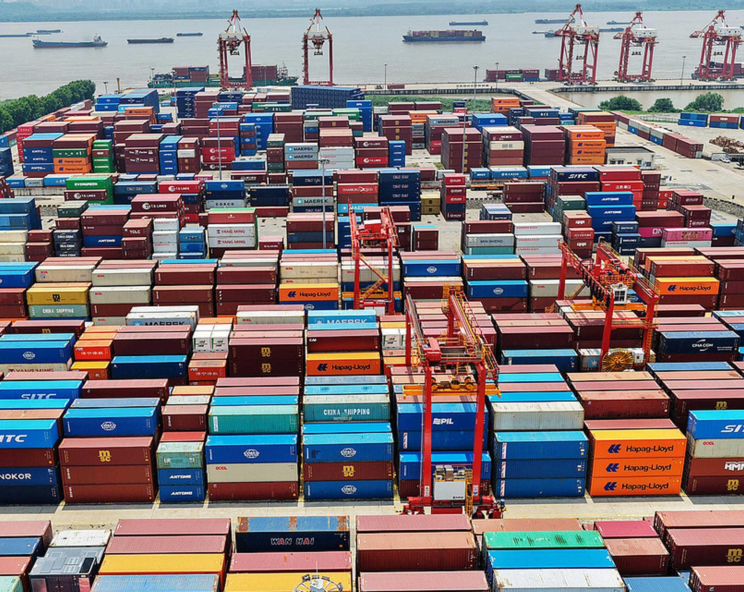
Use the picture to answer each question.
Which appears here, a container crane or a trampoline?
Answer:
container crane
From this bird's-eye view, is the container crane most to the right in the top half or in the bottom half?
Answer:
top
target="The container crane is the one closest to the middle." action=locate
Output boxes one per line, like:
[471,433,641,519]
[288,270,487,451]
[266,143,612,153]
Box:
[339,202,402,330]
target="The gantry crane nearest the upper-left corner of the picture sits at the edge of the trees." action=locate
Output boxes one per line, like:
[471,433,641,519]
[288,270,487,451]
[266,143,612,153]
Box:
[220,10,256,89]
